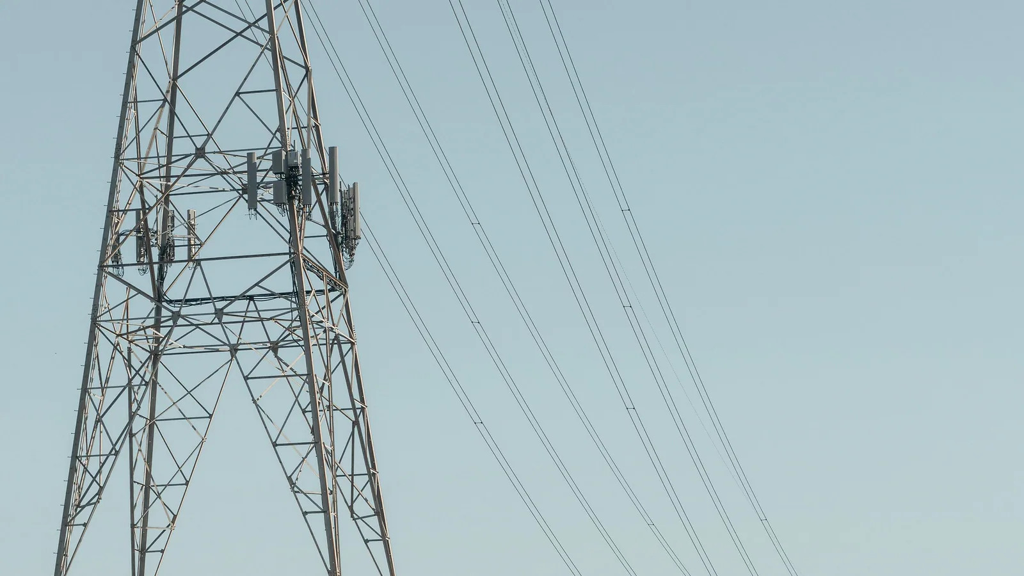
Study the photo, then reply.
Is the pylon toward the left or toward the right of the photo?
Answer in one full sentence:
You can find the pylon on the left side of the picture.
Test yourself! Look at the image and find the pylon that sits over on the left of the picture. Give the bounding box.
[51,0,396,576]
